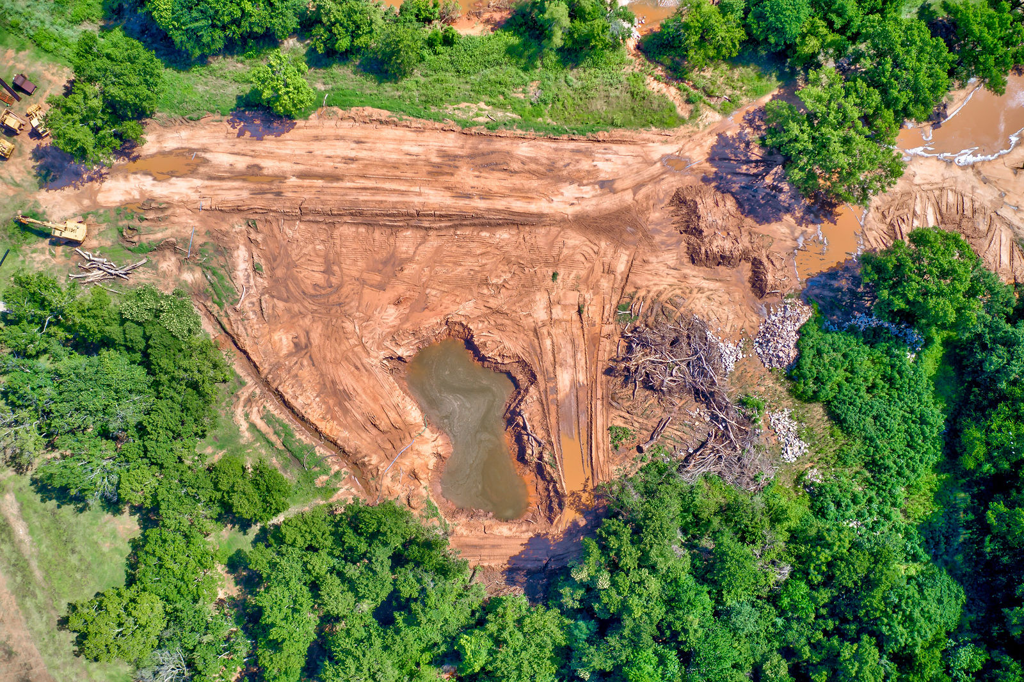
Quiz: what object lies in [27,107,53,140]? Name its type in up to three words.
work vehicle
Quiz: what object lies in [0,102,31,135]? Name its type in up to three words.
work vehicle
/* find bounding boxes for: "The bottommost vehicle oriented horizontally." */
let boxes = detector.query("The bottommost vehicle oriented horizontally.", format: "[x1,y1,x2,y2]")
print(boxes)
[24,217,95,248]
